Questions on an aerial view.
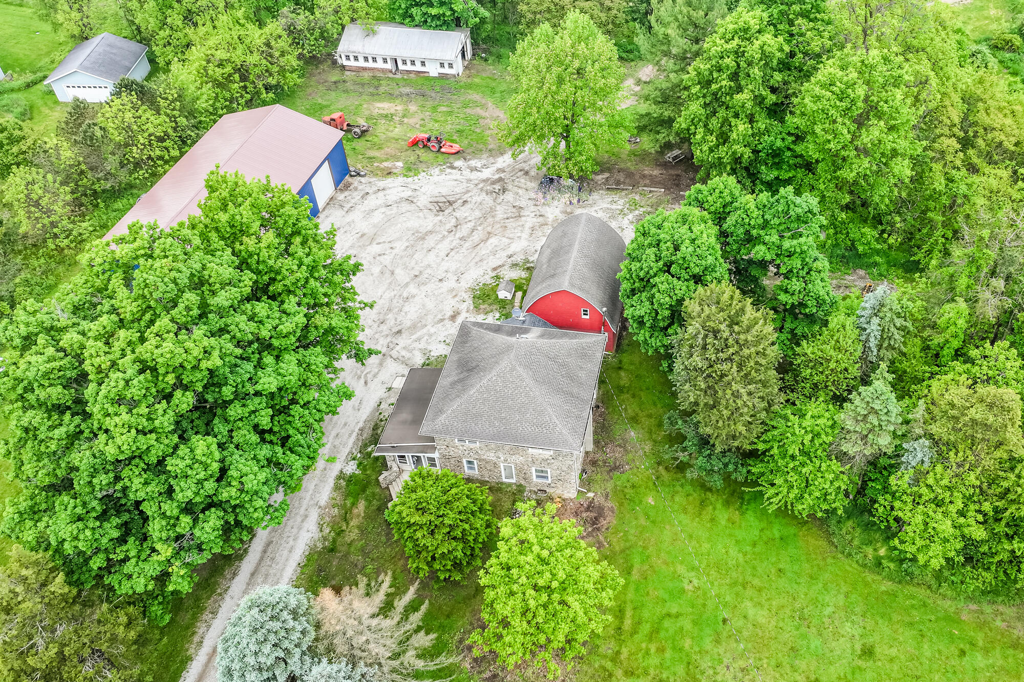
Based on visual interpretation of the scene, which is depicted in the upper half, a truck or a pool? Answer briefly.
truck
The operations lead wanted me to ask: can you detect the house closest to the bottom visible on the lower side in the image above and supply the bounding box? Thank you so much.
[373,315,608,504]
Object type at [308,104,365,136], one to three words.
truck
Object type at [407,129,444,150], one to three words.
work vehicle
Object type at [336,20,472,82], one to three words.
shed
